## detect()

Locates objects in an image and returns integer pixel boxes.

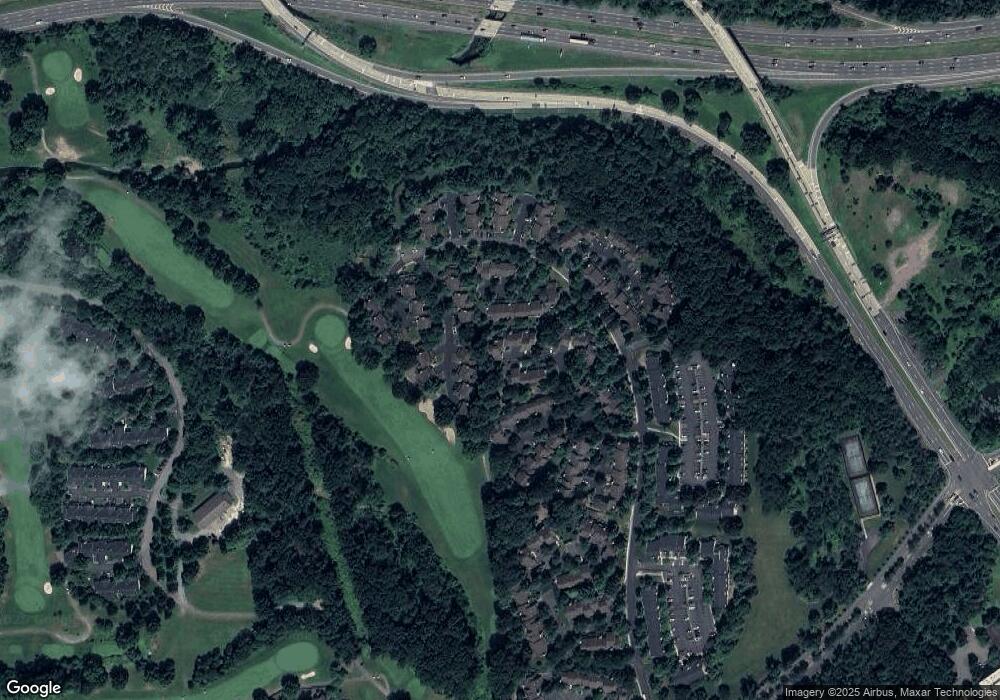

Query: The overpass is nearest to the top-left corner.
[262,0,339,58]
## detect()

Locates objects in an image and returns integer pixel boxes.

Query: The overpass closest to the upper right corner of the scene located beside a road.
[686,0,834,228]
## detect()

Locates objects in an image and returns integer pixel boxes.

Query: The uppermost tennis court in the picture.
[841,435,868,478]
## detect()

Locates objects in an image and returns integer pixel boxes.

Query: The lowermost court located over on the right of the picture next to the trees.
[851,474,879,518]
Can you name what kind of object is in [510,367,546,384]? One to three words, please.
house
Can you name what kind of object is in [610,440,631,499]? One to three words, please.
house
